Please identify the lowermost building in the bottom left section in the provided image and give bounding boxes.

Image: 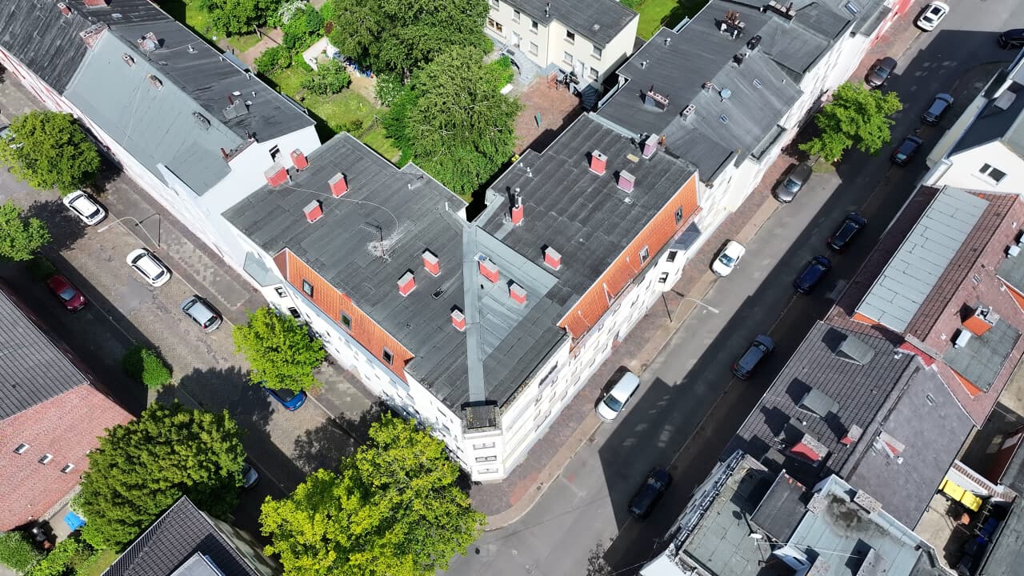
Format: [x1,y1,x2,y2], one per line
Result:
[87,494,268,576]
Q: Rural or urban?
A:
urban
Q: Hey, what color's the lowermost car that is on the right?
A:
black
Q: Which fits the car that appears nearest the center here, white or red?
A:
white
